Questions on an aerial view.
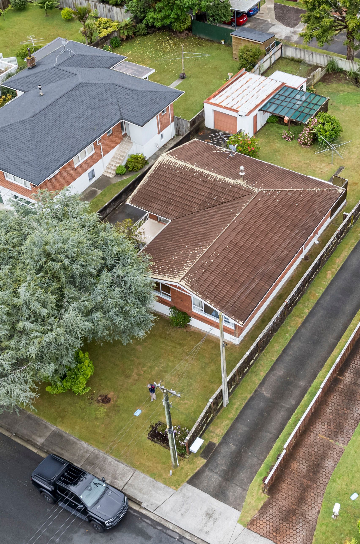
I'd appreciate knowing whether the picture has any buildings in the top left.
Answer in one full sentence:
Yes, there is a building in the top left.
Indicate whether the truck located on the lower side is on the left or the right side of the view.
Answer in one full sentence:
It is on the left.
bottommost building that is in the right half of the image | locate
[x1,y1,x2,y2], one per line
[115,140,351,346]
